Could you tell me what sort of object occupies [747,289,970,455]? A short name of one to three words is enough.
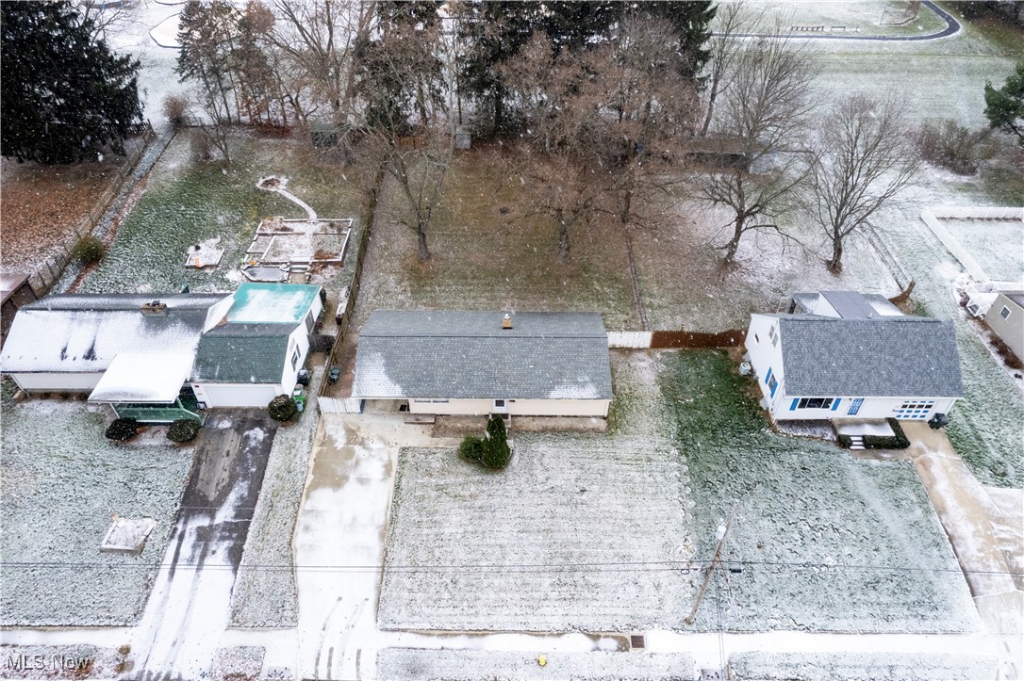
house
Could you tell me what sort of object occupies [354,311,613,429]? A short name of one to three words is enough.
house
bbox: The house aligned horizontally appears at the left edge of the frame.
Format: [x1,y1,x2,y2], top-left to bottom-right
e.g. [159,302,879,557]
[0,283,319,428]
